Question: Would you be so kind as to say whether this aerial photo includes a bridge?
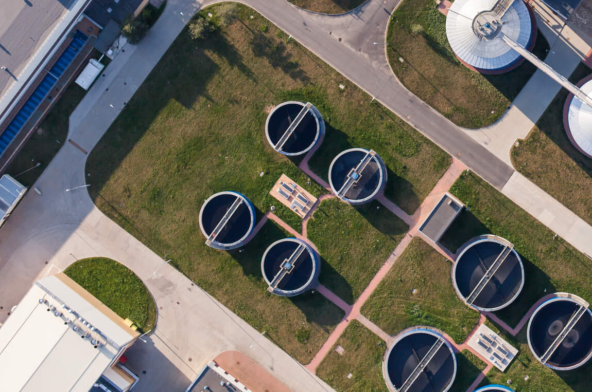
Yes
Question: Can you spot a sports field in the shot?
No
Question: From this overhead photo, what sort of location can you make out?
industrial area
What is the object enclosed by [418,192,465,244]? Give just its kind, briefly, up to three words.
building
